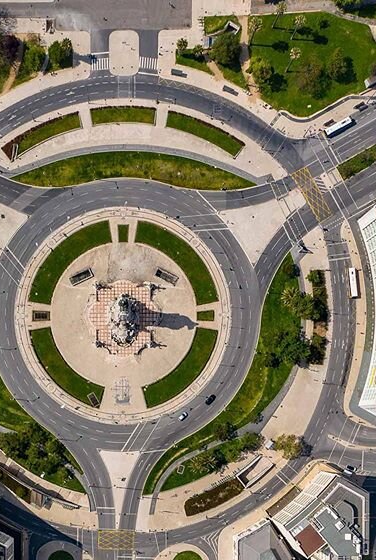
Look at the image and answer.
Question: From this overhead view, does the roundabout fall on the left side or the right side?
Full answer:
It is on the left.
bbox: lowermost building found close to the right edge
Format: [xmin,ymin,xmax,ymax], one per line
[270,468,375,560]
